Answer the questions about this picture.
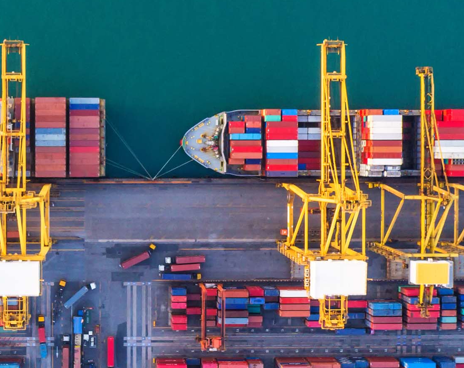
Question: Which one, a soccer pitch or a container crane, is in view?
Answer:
container crane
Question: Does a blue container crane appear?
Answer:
No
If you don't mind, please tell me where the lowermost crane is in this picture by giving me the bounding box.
[195,281,227,355]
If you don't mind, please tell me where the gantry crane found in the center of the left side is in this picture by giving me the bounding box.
[0,39,62,328]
